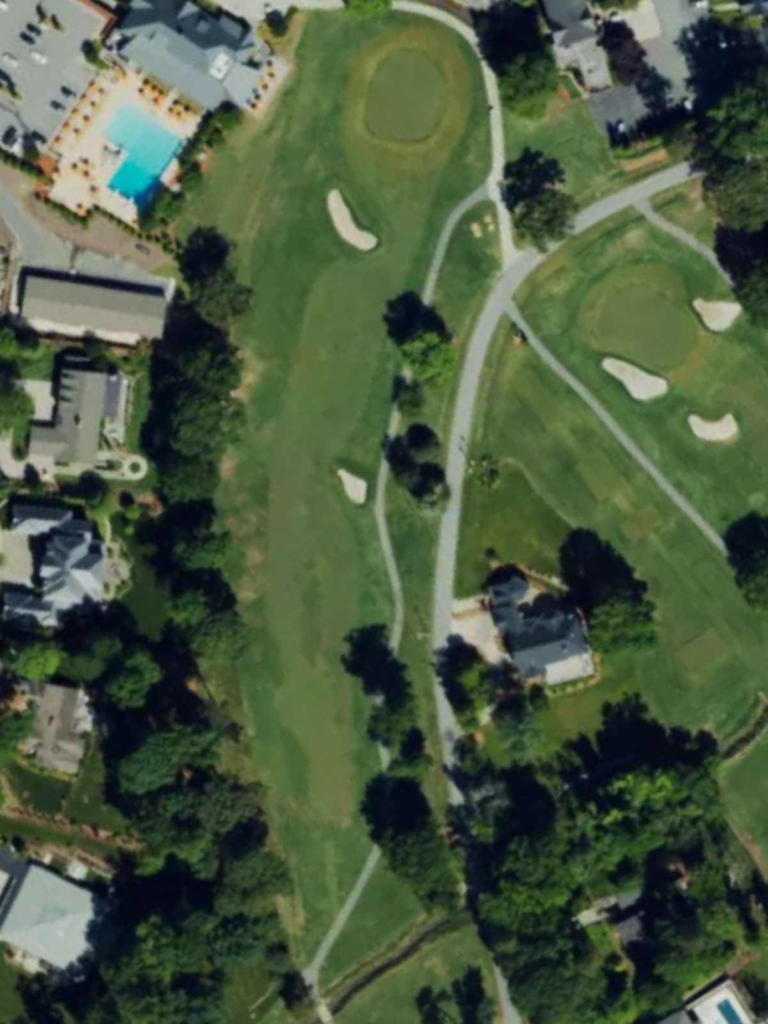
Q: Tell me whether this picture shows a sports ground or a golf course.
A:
golf course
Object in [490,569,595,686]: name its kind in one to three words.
house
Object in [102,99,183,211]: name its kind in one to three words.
swimming pool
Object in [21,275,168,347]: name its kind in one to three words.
building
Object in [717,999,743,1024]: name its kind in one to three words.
swimming pool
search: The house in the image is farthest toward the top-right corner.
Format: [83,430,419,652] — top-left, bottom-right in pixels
[545,0,614,90]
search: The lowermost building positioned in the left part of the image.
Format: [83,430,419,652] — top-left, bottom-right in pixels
[0,848,97,969]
